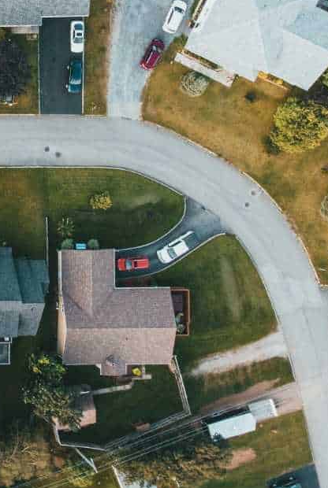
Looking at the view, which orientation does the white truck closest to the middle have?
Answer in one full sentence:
In this picture, the white truck closest to the middle is oriented at an angle.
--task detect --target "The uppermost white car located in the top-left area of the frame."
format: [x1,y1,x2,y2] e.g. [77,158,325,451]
[67,20,87,54]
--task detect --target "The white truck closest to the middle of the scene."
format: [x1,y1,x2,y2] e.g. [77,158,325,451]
[155,230,201,266]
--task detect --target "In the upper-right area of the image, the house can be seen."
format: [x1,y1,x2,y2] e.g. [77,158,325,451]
[176,0,328,91]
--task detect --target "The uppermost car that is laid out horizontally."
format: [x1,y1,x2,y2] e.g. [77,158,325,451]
[115,256,151,273]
